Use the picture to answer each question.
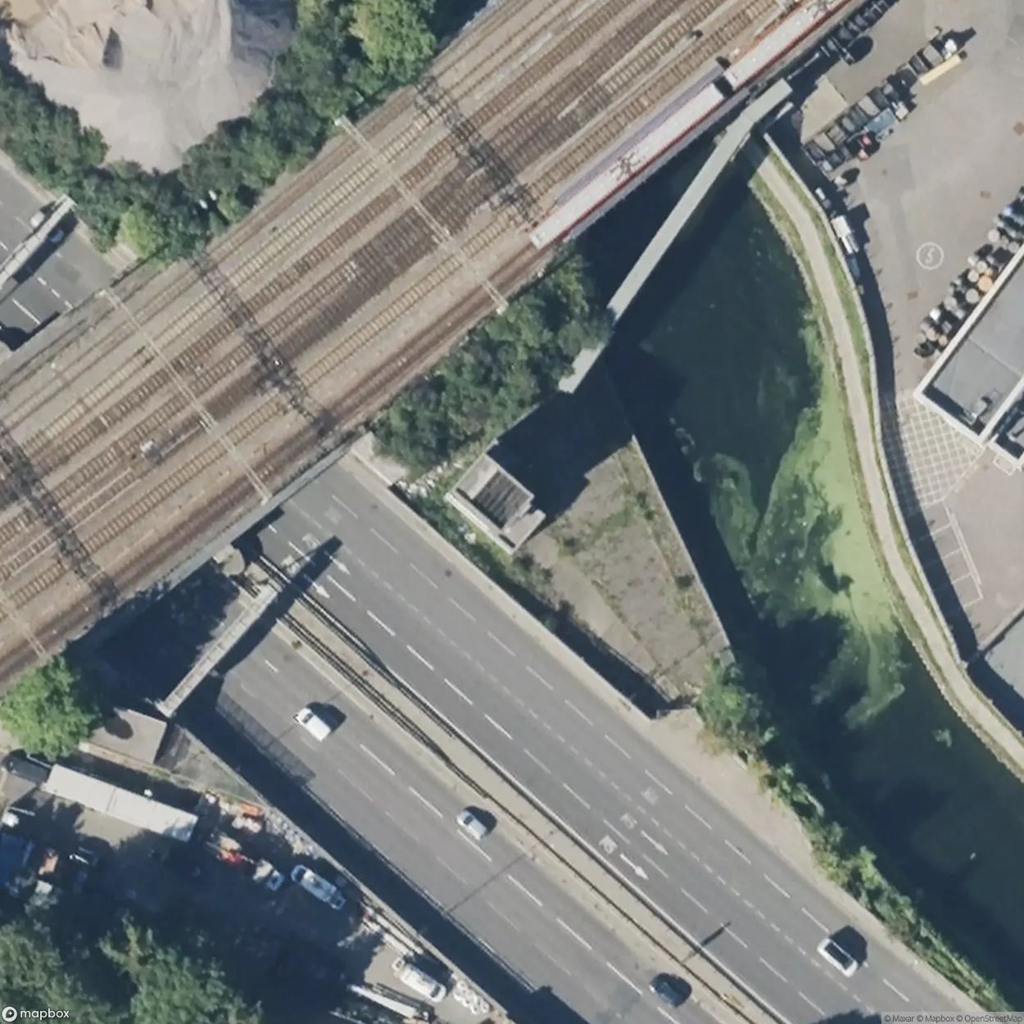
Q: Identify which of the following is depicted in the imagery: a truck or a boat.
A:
truck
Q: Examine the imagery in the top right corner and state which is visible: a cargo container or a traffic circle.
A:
cargo container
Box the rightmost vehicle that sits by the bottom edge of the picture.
[816,936,858,976]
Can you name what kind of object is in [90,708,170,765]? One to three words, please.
shed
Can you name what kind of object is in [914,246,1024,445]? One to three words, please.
building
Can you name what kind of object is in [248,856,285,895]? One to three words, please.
truck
